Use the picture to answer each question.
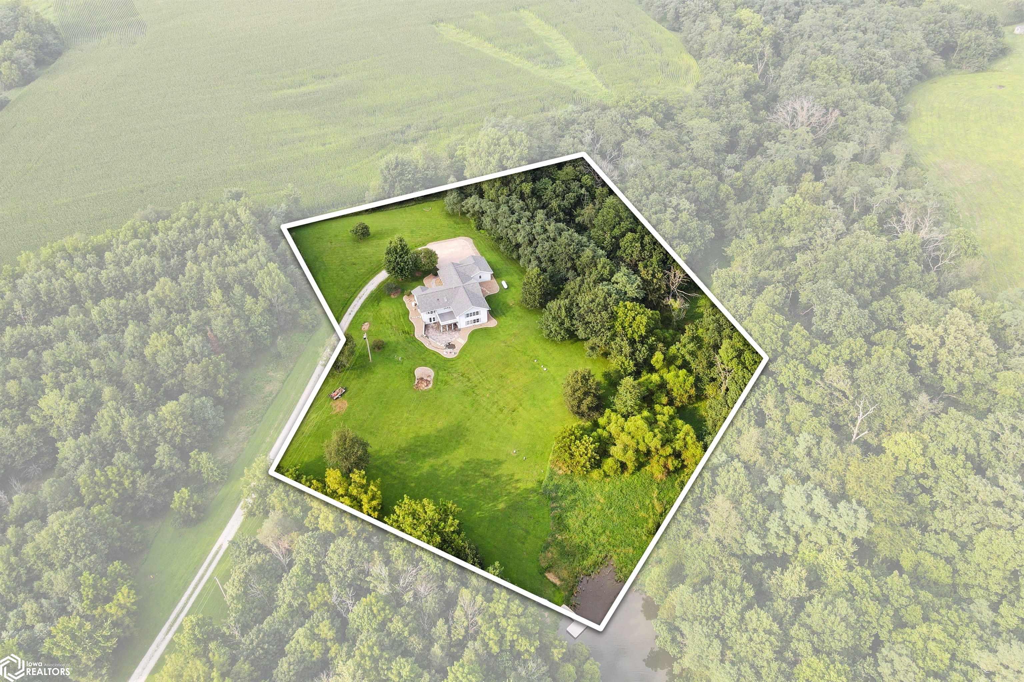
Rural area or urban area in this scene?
rural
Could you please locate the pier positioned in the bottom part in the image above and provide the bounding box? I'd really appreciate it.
[561,605,588,638]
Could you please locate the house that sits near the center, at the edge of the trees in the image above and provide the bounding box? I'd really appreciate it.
[410,255,494,331]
